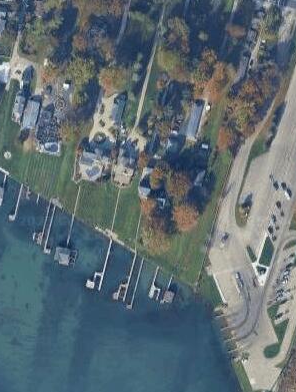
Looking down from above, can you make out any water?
Yes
